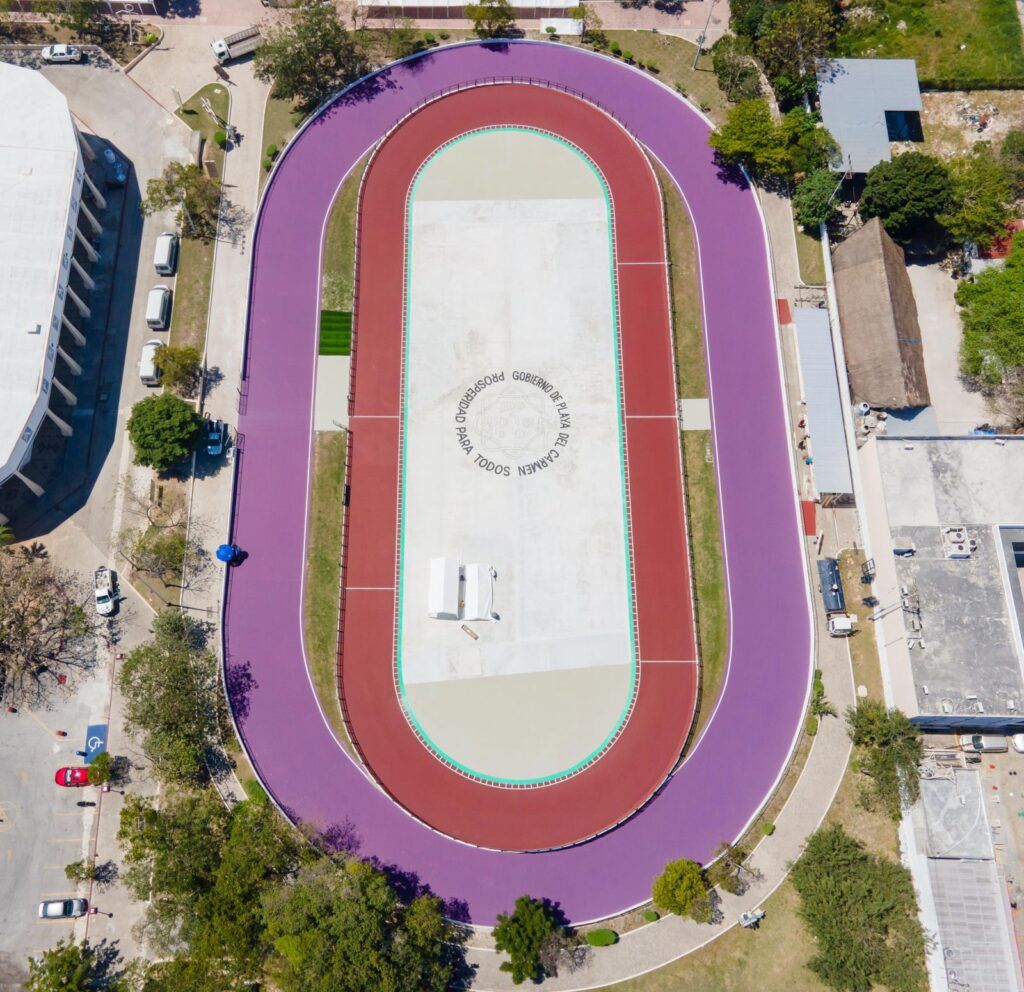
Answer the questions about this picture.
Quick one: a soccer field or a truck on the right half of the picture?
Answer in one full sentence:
It is a truck that can be seen on the right half of the picture.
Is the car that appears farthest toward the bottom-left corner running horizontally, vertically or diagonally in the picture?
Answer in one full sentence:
From this overhead view, the car that appears farthest toward the bottom-left corner appears to run horizontally.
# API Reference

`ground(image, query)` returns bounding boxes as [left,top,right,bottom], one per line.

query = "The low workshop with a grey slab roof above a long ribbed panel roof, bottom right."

[904,768,1024,992]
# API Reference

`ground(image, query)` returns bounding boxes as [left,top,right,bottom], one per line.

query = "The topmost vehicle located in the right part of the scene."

[816,558,857,635]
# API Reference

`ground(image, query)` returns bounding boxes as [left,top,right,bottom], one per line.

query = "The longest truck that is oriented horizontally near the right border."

[959,732,1014,755]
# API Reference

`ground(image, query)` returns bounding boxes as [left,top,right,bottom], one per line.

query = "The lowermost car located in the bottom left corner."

[33,897,86,923]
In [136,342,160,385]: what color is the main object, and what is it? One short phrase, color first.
white vehicle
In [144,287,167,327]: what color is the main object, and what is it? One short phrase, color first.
white vehicle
